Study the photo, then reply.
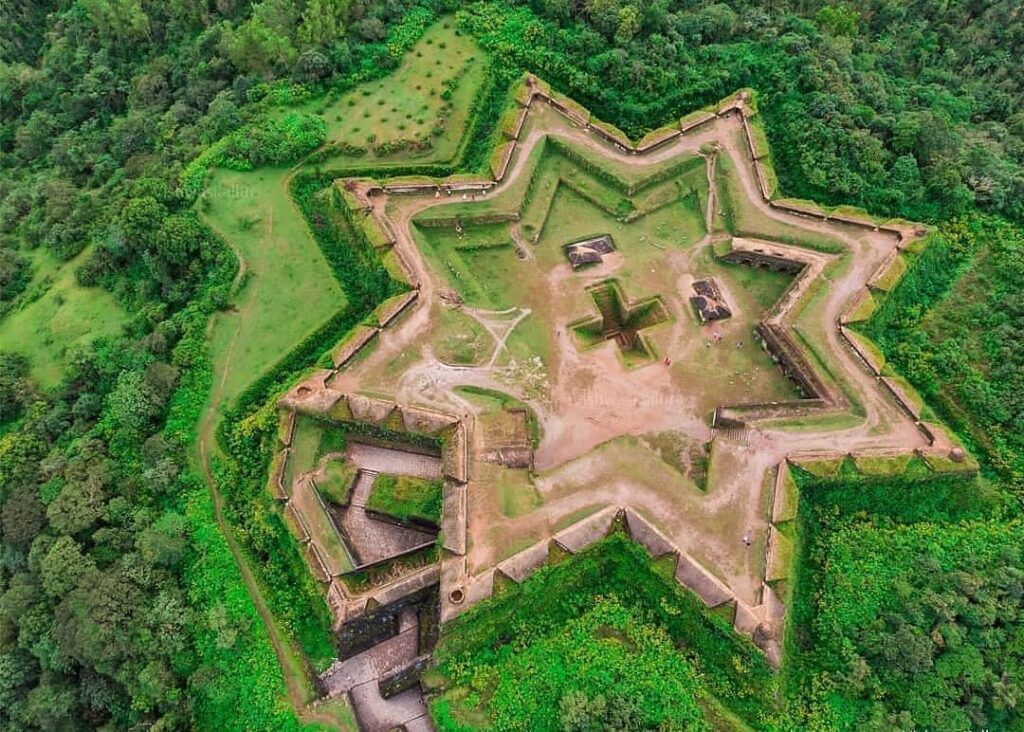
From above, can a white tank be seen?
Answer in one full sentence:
No, the scene contains no white tank.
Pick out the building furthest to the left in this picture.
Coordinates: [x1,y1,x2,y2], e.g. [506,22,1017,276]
[565,234,616,271]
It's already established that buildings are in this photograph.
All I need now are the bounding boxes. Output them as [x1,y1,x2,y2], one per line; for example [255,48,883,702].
[688,277,734,324]
[711,236,850,429]
[565,234,616,271]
